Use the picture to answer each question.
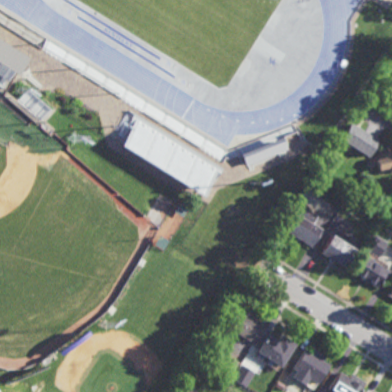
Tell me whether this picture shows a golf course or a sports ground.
sports ground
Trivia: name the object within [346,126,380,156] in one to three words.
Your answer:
house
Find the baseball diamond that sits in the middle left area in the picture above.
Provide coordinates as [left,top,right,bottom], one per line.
[0,98,152,370]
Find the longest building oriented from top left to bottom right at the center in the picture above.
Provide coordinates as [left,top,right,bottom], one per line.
[122,116,222,196]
